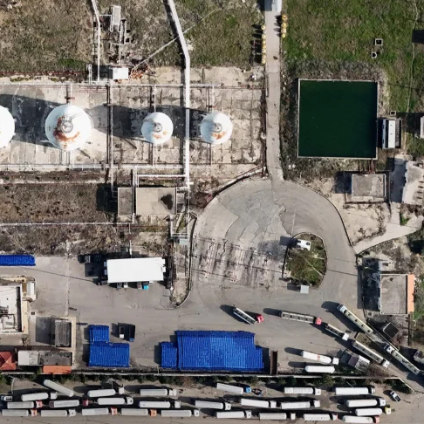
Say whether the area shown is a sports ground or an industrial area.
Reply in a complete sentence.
What you see here is an industrial area.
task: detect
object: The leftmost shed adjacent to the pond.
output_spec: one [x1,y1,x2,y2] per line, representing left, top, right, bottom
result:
[348,173,386,196]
